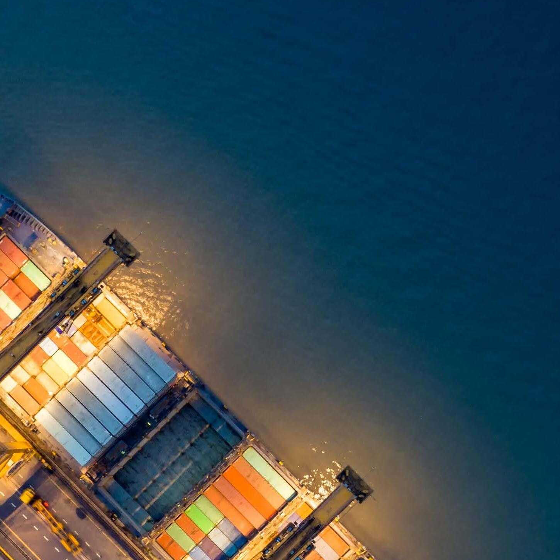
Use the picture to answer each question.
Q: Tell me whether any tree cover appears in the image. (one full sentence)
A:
No, there's no tree cover in this view.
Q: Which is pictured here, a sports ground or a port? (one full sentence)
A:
This image shows a port.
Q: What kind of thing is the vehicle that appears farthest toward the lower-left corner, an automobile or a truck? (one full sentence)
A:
What you see as the vehicle that appears farthest toward the lower-left corner is a truck.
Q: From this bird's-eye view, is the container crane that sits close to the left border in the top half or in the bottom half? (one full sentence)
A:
You can find the container crane that sits close to the left border in the bottom half.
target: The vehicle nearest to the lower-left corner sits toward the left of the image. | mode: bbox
[19,487,86,555]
